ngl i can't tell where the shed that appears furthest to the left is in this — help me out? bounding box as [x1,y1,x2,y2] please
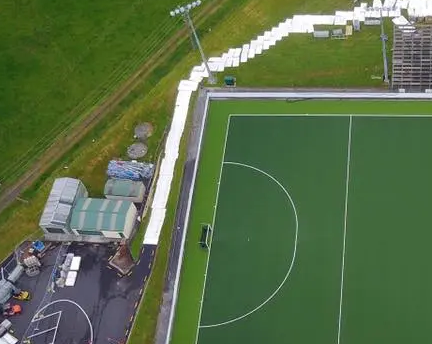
[40,176,92,243]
